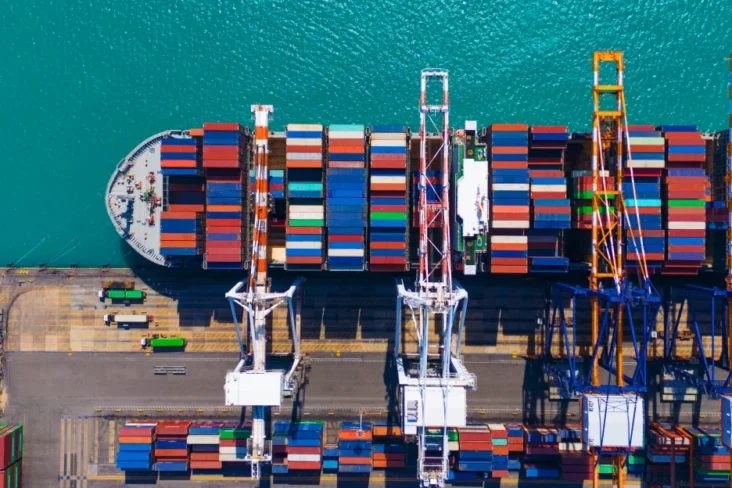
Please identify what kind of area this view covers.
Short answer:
port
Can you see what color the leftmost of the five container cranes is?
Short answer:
white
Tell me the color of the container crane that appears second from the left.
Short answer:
white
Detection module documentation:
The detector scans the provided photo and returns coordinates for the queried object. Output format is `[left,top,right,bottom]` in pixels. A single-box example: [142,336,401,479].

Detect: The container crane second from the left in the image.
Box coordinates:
[380,69,482,484]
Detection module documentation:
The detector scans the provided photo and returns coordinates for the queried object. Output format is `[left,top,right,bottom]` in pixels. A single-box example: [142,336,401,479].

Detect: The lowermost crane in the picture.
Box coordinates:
[659,433,701,488]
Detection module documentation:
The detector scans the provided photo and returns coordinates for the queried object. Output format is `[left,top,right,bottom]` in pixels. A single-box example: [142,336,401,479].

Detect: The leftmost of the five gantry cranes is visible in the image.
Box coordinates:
[224,104,320,474]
